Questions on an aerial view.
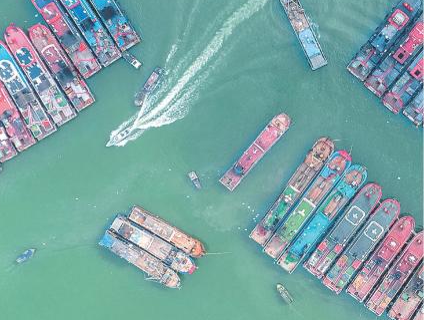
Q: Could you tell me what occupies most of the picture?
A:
water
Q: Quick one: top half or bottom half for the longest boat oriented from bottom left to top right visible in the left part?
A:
top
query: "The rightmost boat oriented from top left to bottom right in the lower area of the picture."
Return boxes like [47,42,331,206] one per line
[275,284,294,305]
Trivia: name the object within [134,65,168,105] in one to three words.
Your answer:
boat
